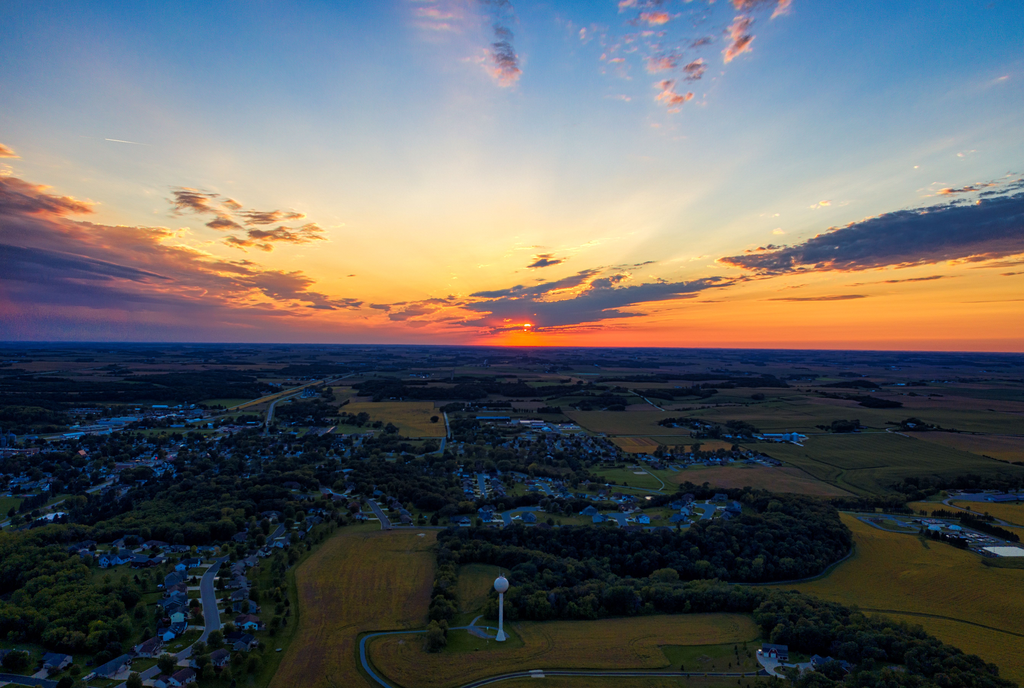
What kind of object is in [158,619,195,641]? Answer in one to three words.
house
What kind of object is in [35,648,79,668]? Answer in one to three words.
house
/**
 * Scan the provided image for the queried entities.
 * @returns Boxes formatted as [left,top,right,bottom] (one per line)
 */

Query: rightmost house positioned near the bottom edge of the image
[803,653,845,671]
